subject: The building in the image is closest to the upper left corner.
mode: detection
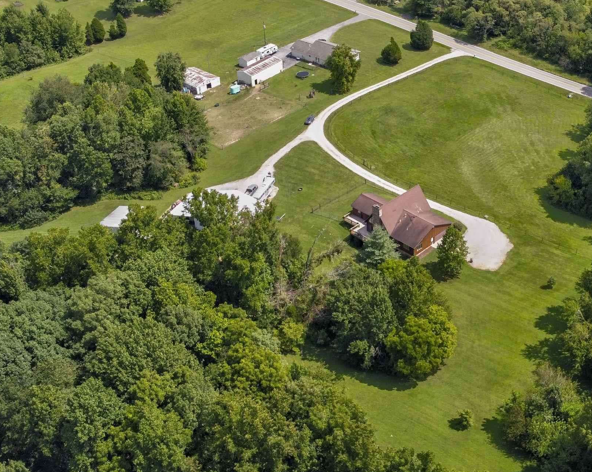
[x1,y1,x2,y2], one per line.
[173,69,224,93]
